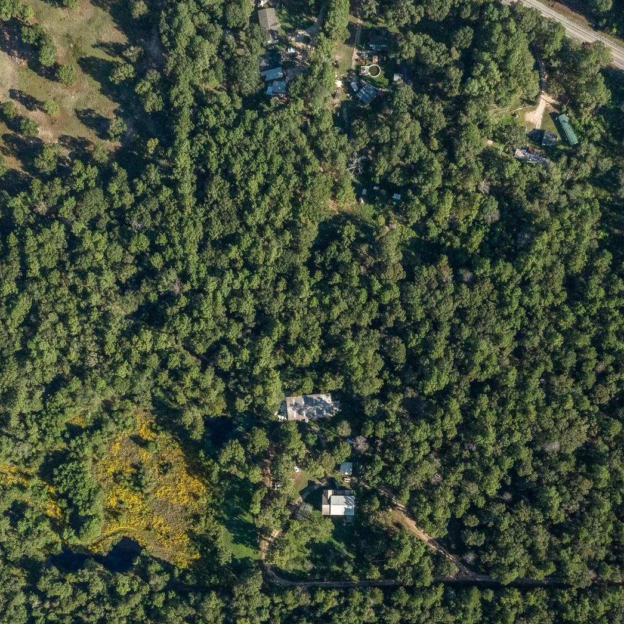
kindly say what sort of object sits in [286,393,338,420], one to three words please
house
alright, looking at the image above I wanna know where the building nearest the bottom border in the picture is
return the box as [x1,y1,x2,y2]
[321,489,354,515]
